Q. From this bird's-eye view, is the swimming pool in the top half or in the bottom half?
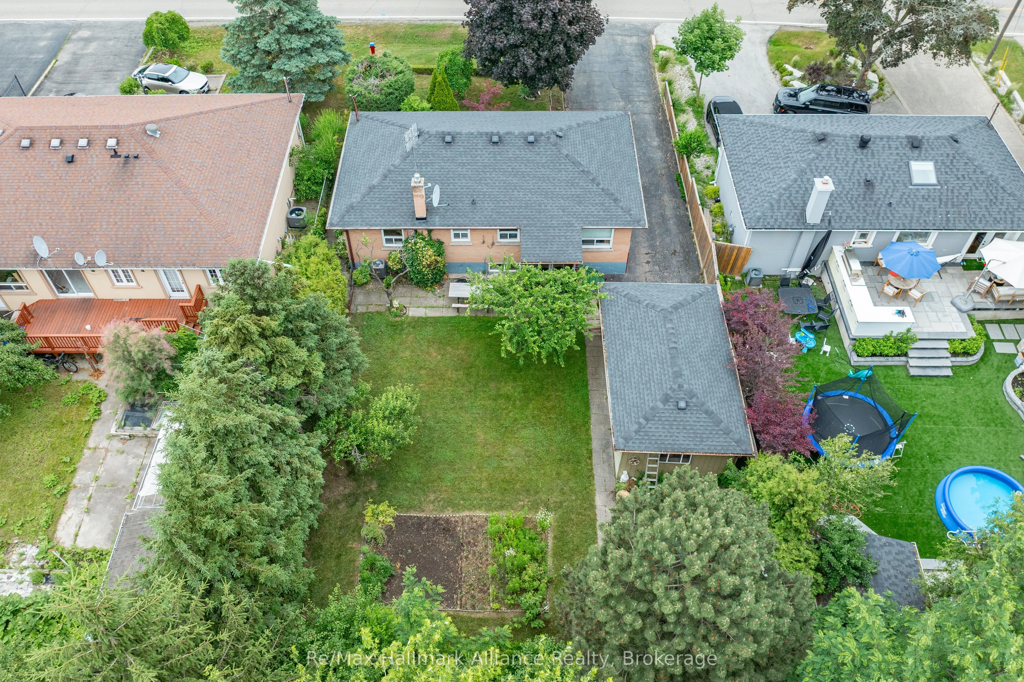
bottom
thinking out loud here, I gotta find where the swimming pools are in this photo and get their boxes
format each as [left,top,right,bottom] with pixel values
[931,465,1024,544]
